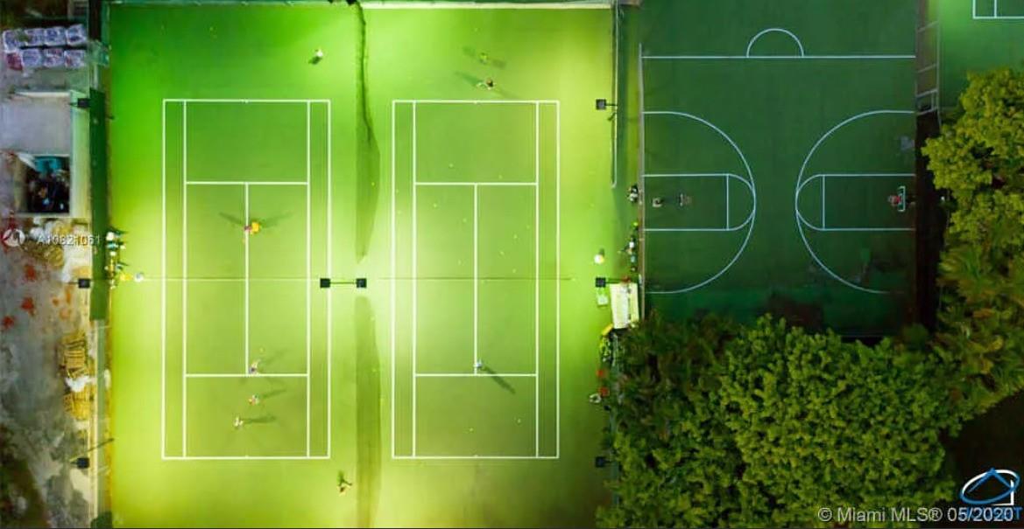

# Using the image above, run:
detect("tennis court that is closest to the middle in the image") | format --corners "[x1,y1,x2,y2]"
[392,100,559,458]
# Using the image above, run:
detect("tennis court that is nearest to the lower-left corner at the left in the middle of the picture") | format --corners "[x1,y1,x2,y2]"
[163,99,330,458]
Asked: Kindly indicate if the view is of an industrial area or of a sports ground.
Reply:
sports ground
